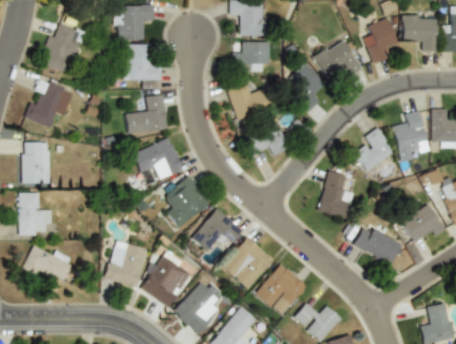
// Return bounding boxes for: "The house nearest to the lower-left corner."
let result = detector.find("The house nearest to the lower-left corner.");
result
[22,246,72,281]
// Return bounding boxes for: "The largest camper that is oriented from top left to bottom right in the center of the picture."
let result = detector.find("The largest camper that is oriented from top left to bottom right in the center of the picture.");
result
[226,156,243,174]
